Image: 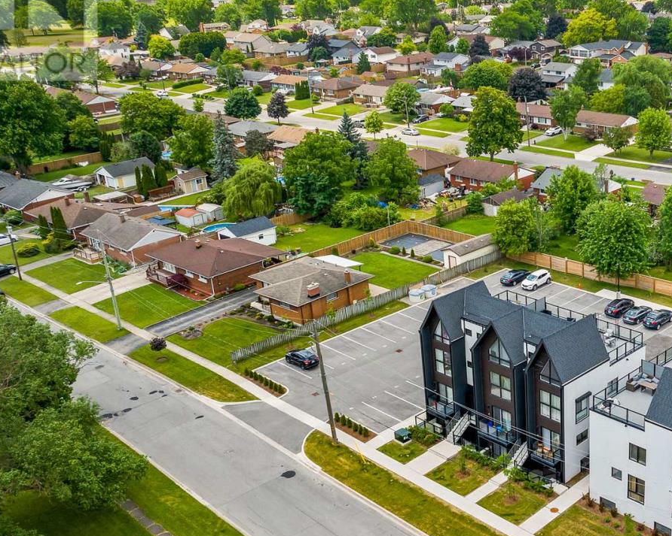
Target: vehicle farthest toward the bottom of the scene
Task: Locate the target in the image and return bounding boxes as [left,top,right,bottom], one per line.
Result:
[286,348,326,373]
